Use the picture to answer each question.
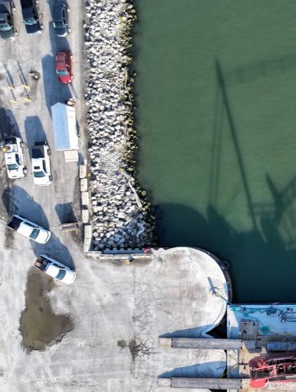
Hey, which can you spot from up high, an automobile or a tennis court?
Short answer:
automobile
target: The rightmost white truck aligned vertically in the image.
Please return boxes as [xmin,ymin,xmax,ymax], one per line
[31,140,54,185]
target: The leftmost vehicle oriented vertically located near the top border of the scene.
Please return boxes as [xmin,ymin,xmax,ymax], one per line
[0,0,20,43]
